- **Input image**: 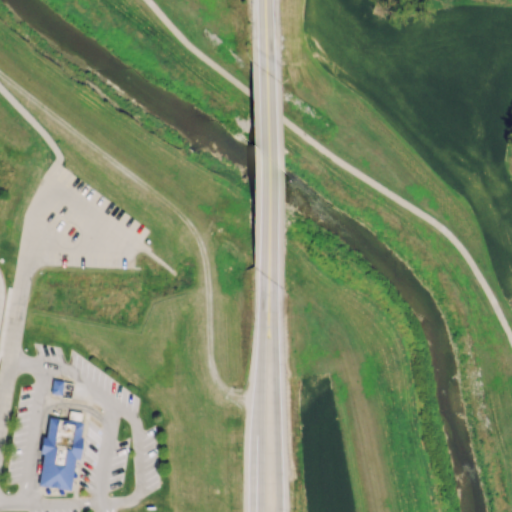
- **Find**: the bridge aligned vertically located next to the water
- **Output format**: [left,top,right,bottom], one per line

[246,62,286,289]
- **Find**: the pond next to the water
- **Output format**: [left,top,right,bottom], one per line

[301,376,356,512]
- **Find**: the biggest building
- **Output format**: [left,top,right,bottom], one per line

[40,410,88,491]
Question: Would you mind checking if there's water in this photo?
Yes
